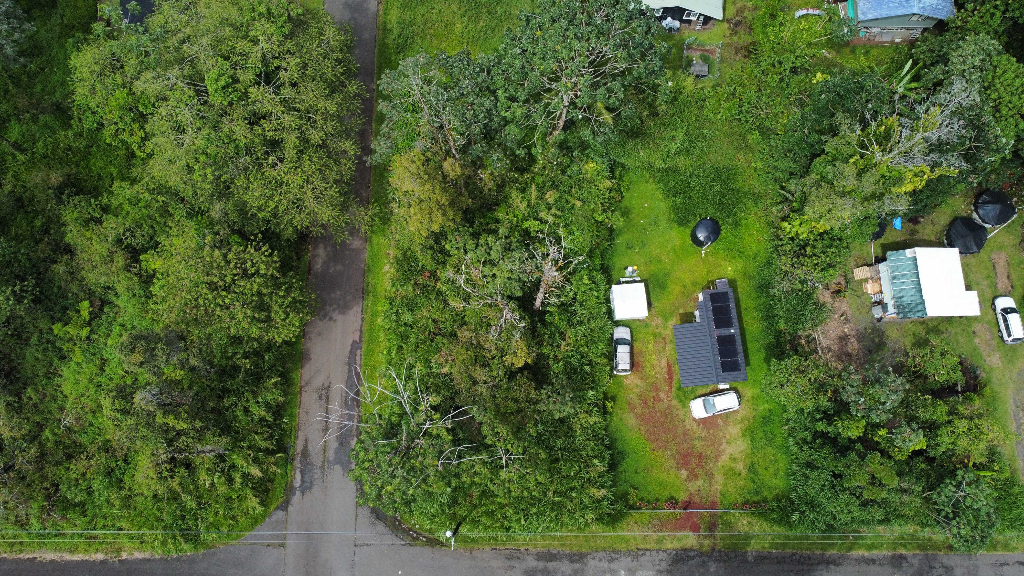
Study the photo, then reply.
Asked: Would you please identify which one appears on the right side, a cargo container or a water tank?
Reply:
water tank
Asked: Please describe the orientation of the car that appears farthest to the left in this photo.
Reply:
up and down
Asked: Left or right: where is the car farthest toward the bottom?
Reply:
right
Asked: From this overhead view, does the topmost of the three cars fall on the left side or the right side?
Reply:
right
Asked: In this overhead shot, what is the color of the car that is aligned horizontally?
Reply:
white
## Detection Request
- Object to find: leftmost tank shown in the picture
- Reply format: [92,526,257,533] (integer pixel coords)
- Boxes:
[692,217,724,258]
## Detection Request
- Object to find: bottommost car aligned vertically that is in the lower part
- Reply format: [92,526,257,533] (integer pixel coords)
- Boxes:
[611,325,635,378]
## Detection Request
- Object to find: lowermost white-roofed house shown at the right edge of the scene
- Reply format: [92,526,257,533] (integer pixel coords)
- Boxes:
[875,246,982,320]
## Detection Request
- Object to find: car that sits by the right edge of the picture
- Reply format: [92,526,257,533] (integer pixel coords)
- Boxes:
[990,295,1024,347]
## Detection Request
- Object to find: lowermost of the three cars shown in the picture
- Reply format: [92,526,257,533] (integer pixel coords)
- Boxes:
[688,388,744,419]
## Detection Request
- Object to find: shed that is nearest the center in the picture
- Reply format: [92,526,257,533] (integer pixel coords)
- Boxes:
[609,282,648,321]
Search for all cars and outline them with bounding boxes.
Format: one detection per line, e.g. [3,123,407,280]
[611,325,635,378]
[990,295,1024,347]
[688,388,744,419]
